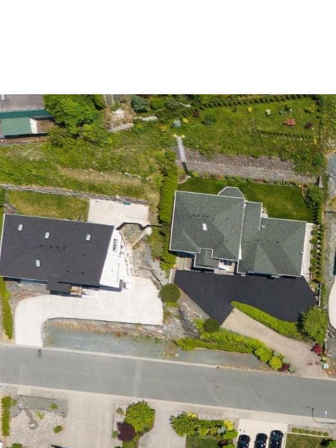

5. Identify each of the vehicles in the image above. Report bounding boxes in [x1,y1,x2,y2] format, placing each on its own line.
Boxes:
[235,436,249,448]
[252,434,266,448]
[267,431,281,448]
